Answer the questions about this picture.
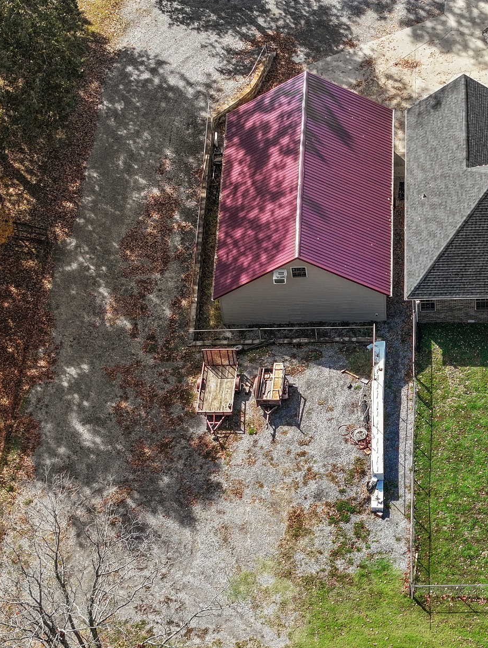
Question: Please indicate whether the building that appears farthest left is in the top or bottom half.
top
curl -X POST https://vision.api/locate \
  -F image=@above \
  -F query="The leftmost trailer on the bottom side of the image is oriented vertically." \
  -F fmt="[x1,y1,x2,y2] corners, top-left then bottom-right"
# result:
[195,346,243,443]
